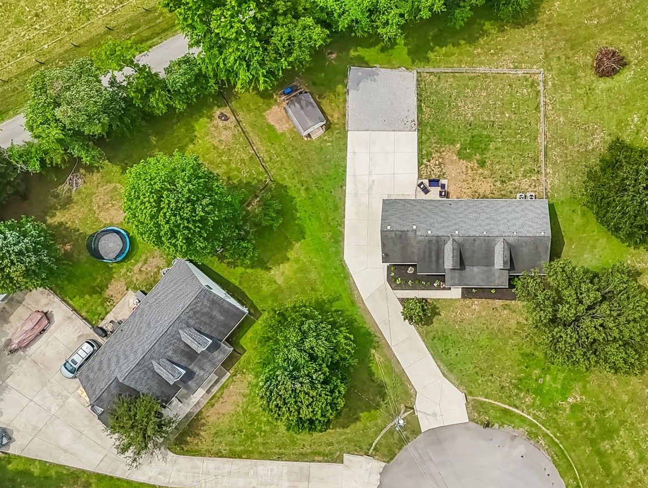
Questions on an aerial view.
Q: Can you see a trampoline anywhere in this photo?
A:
Yes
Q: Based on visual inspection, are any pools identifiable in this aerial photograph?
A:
No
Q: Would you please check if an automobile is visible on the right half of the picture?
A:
No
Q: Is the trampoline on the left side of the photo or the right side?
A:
left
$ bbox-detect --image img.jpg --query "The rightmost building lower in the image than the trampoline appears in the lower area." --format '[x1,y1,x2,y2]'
[78,255,251,420]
